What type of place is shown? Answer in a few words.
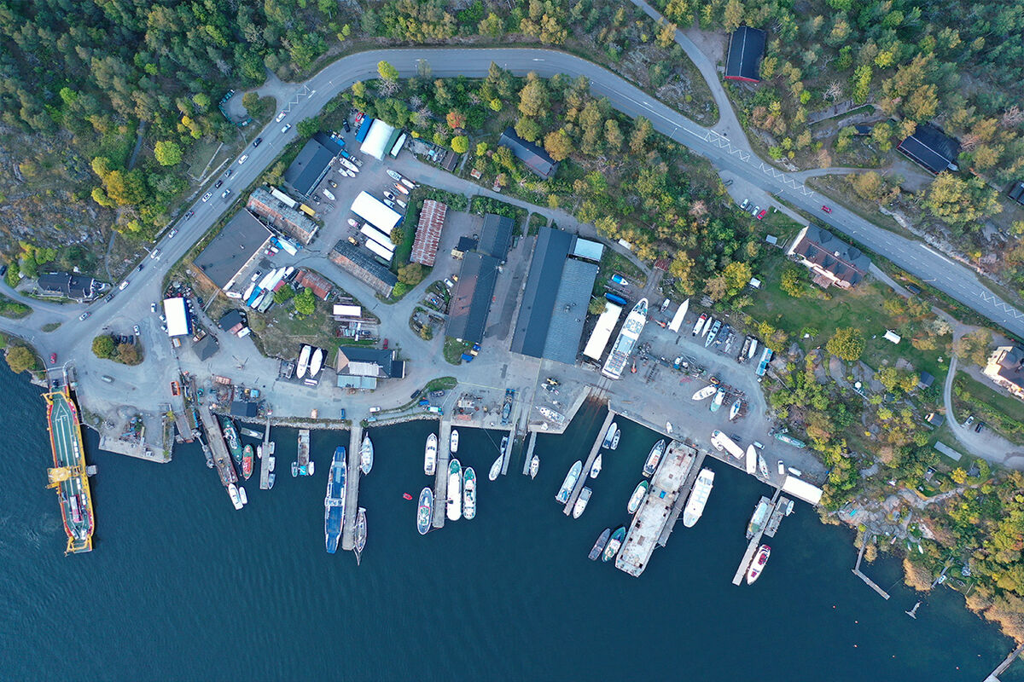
port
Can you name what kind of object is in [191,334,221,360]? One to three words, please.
shed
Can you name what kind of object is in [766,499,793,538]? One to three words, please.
pier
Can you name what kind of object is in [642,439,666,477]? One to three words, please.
boat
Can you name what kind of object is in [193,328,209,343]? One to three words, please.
vehicle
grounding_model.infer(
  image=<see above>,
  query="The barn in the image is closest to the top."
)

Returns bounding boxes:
[724,30,766,84]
